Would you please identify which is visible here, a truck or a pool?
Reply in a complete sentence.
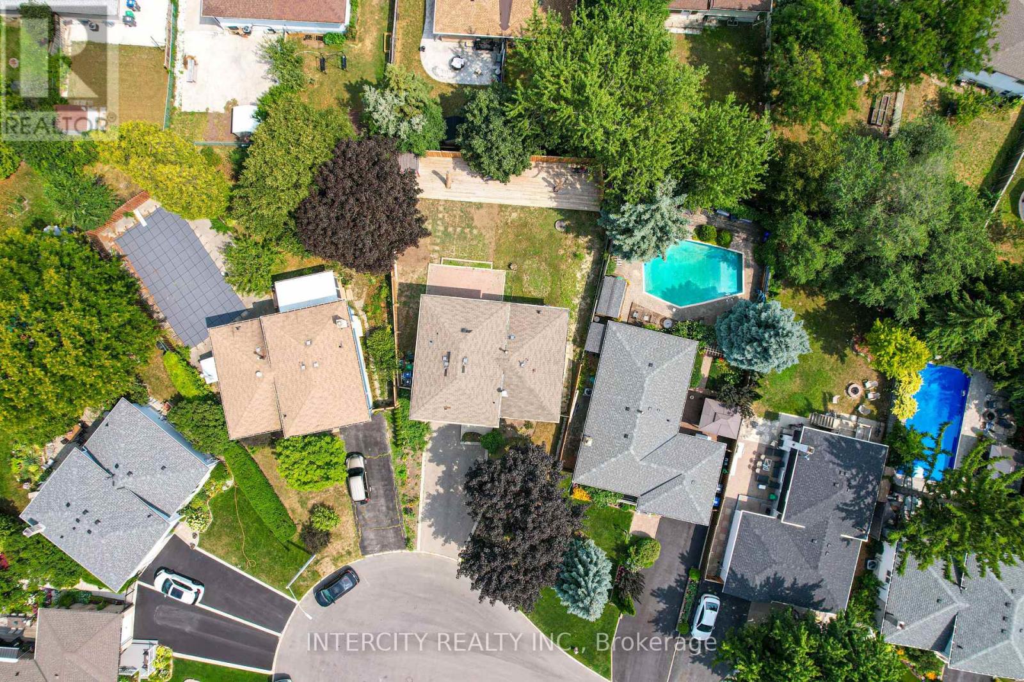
Visible in the photo is a pool.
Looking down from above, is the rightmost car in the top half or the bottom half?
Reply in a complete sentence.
The rightmost car is in the bottom half of the image.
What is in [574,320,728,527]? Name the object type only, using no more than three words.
house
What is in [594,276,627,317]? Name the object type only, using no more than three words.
shed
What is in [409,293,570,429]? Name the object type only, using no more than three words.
house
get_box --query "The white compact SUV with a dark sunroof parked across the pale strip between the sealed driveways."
[155,568,207,605]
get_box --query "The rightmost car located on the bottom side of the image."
[690,594,718,640]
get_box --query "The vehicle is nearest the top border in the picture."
[344,451,374,505]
